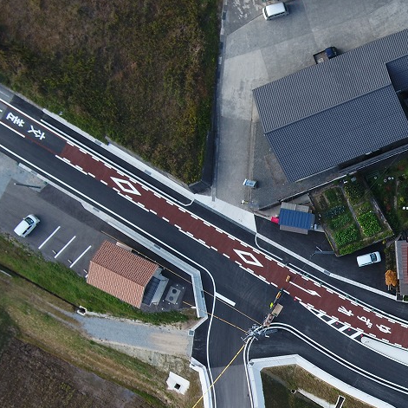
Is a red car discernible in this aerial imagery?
No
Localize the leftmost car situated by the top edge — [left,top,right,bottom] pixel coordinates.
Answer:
[262,1,290,21]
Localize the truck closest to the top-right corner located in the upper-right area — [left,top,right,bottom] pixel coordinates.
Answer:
[310,42,338,64]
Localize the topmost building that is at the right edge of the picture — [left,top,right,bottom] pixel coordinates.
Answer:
[253,29,408,182]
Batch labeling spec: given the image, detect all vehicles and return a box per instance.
[262,1,290,21]
[310,42,338,64]
[356,251,383,266]
[14,212,42,239]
